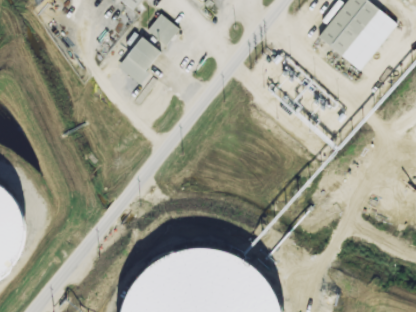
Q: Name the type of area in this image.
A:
industrial area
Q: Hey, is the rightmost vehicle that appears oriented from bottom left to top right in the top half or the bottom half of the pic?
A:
top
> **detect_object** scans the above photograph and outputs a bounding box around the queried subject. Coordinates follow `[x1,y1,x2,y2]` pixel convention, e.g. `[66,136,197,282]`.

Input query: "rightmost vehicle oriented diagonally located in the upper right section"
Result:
[374,65,394,89]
